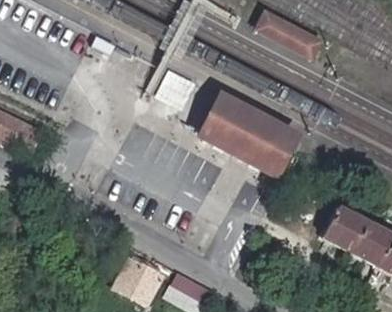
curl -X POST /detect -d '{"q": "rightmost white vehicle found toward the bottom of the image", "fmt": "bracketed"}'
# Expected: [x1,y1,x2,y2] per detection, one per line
[167,205,182,230]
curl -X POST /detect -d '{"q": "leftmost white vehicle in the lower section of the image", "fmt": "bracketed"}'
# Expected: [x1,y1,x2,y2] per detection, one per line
[108,180,122,202]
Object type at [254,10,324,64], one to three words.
building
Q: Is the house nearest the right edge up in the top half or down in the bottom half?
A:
bottom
